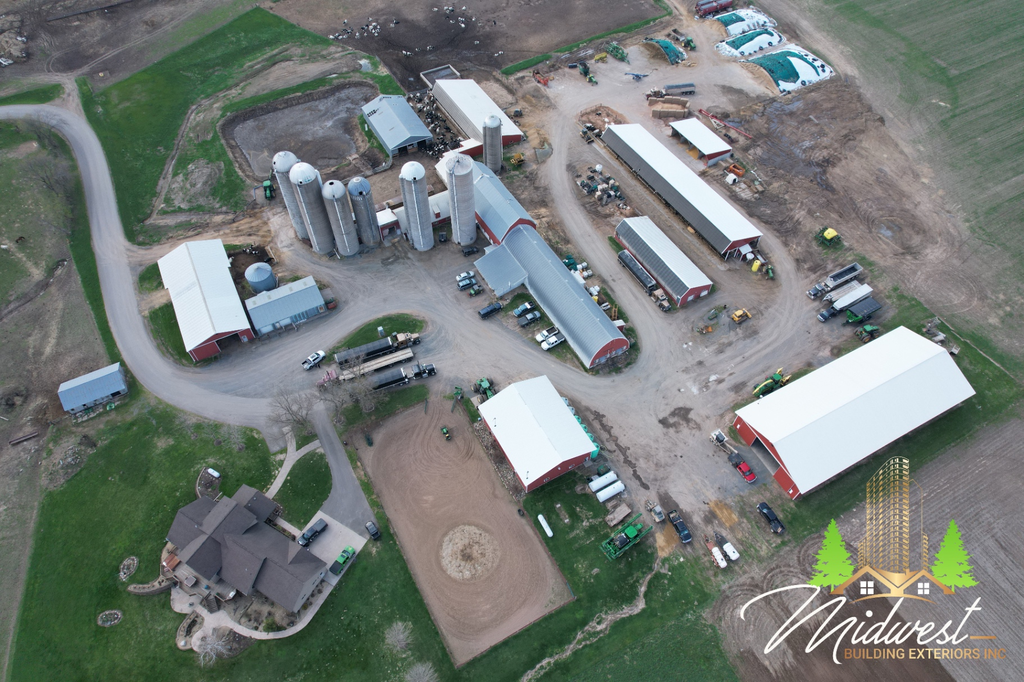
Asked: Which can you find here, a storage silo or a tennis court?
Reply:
storage silo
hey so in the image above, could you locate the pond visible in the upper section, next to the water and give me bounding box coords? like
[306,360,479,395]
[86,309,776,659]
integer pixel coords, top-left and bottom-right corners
[235,86,370,176]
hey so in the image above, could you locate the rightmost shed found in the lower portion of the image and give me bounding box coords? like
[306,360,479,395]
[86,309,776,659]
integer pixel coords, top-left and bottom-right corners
[730,327,977,499]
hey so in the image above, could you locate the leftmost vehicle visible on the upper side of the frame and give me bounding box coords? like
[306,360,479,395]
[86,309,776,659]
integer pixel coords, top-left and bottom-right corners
[263,181,276,202]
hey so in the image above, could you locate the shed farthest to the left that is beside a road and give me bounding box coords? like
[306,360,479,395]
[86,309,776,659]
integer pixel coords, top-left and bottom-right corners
[58,361,130,416]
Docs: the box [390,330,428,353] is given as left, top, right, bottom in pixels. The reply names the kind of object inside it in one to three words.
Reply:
truck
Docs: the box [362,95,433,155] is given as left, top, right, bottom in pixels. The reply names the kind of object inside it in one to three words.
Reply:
shed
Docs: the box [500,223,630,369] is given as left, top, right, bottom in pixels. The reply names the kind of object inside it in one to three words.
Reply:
barn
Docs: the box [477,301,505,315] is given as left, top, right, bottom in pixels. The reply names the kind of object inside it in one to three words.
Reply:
car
